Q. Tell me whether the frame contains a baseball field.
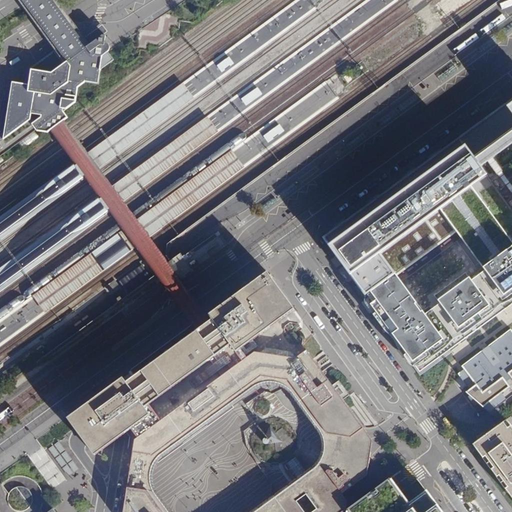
No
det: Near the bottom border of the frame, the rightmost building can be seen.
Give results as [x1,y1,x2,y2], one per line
[471,414,512,499]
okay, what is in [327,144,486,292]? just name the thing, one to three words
building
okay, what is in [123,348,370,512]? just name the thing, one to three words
building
